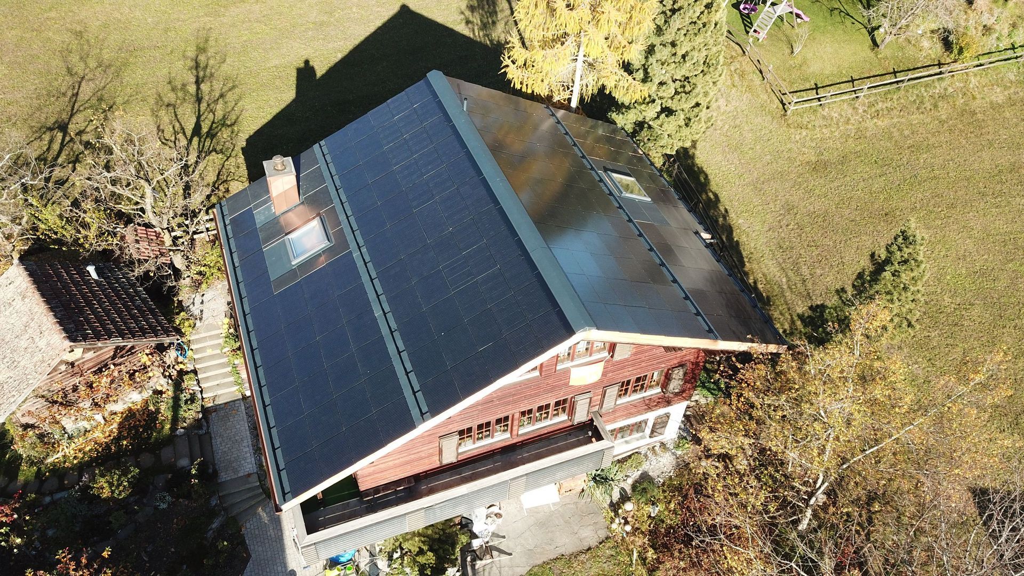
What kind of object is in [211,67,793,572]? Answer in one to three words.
house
